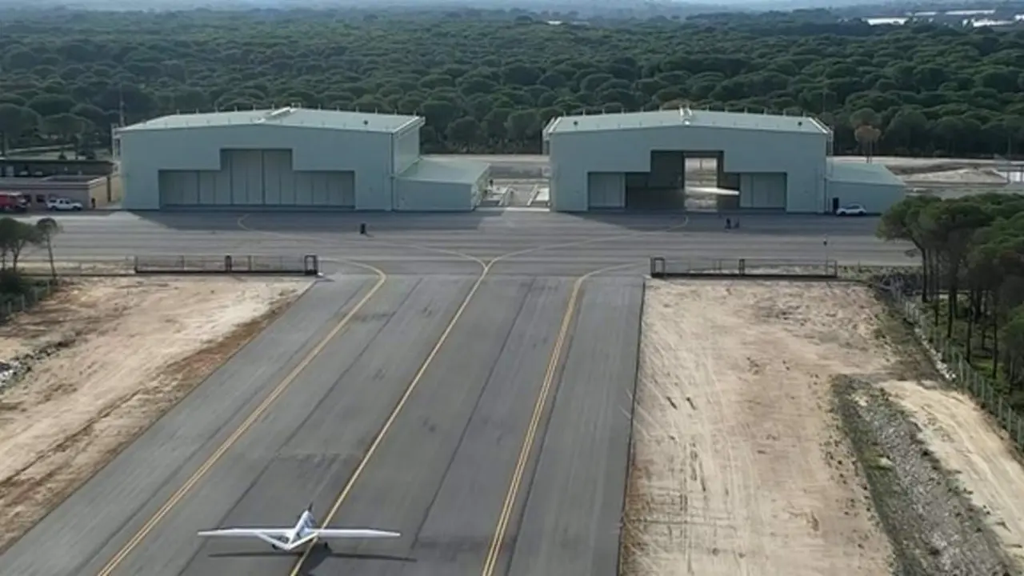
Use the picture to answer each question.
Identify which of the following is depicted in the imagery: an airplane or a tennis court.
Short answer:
airplane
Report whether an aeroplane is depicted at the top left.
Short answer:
No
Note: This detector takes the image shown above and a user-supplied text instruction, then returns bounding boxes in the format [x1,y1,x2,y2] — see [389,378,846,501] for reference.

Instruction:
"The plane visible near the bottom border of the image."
[197,501,399,551]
